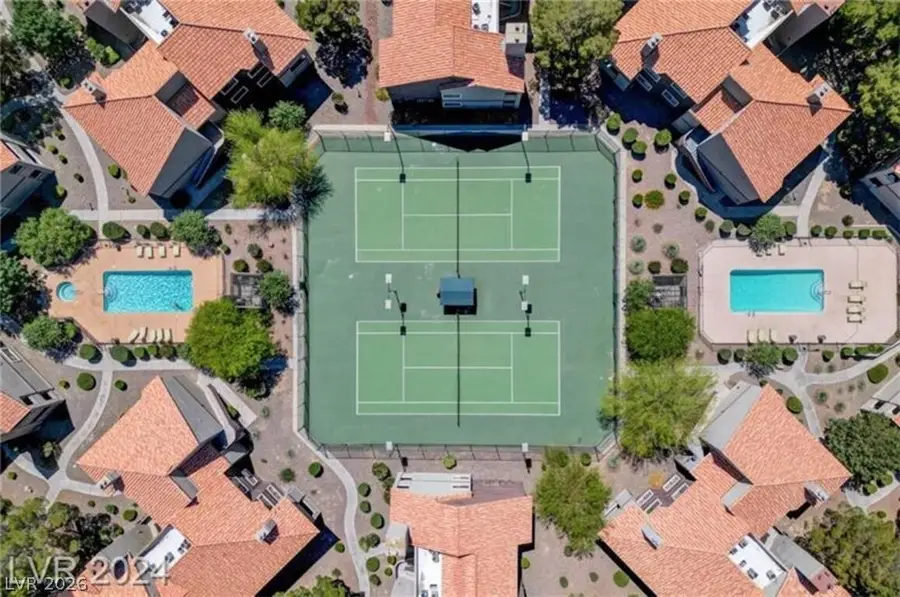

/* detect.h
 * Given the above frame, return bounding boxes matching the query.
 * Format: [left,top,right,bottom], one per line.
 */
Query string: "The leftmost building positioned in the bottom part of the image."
[0,336,65,468]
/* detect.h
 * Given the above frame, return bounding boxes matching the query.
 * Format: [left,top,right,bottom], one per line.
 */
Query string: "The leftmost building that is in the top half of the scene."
[0,118,54,223]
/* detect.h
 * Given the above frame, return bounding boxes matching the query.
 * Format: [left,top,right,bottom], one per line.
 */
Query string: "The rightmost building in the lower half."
[861,375,900,429]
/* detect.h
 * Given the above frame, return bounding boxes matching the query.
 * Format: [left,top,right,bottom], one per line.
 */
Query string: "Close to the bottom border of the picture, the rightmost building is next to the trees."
[595,382,855,597]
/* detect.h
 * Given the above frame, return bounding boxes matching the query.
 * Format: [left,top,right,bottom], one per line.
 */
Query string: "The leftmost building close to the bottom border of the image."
[76,375,323,597]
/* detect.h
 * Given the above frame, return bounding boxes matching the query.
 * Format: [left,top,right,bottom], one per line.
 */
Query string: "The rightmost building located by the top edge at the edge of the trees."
[595,0,856,205]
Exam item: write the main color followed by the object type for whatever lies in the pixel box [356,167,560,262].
green tennis court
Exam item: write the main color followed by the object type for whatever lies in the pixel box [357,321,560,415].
green tennis court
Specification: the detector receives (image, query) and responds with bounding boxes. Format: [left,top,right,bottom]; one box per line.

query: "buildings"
[595,382,855,597]
[595,0,856,205]
[0,118,54,223]
[863,141,900,218]
[0,336,65,468]
[379,0,528,105]
[861,375,900,429]
[76,375,323,597]
[386,476,533,597]
[62,0,313,197]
